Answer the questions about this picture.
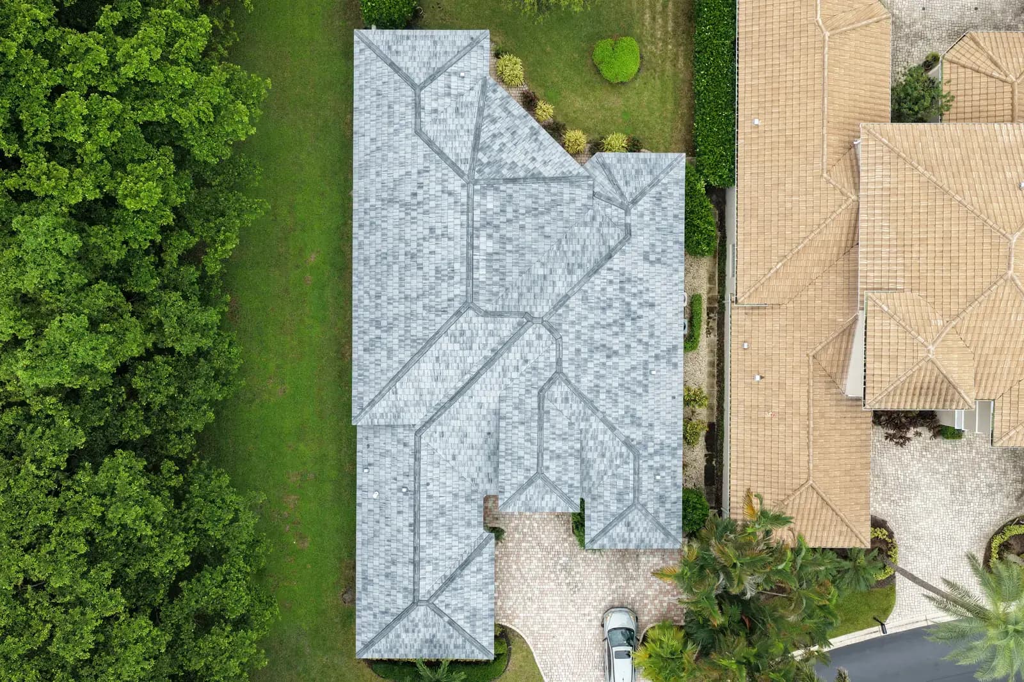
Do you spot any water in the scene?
No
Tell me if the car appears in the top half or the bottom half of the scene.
bottom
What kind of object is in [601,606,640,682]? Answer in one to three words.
car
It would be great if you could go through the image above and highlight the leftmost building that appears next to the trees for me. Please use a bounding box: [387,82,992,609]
[351,23,686,660]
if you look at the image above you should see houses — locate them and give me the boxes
[351,23,686,660]
[721,0,1024,549]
